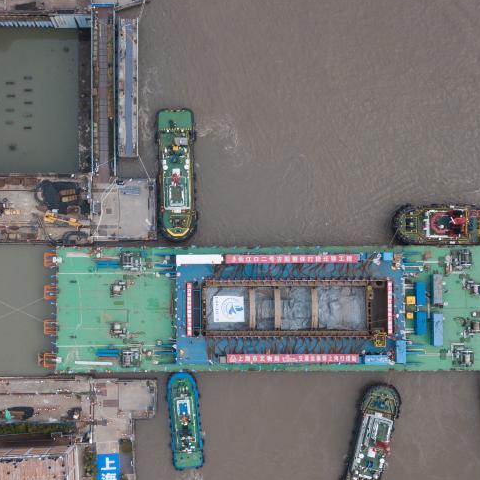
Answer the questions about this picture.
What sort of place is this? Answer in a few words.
port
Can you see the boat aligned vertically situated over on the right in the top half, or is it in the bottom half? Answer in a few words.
bottom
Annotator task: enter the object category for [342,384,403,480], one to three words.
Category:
boat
